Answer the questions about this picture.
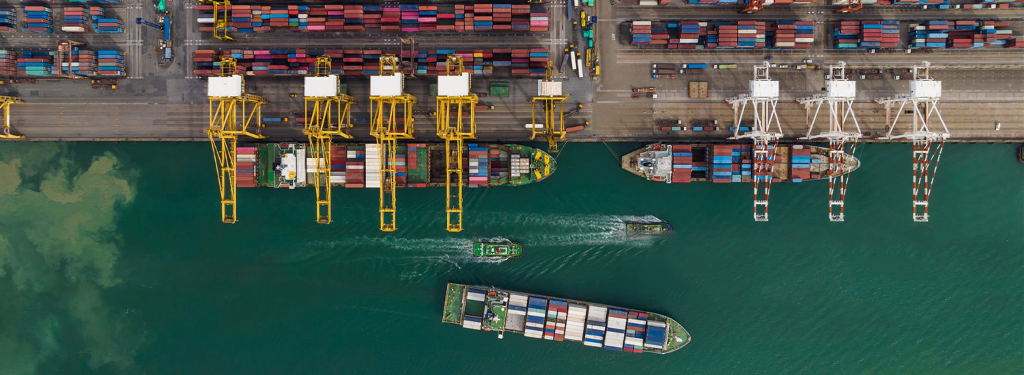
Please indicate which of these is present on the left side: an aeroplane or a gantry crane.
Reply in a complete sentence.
There is a gantry crane on the left side.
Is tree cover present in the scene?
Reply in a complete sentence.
No, the scene doesn't show any tree cover.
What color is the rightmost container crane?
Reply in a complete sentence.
The color of the rightmost container crane is white.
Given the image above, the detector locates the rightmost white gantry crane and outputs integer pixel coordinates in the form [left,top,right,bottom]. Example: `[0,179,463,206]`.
[873,61,946,222]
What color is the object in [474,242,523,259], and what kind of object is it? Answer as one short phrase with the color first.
green boat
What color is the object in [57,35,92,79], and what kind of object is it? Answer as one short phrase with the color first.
red crane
